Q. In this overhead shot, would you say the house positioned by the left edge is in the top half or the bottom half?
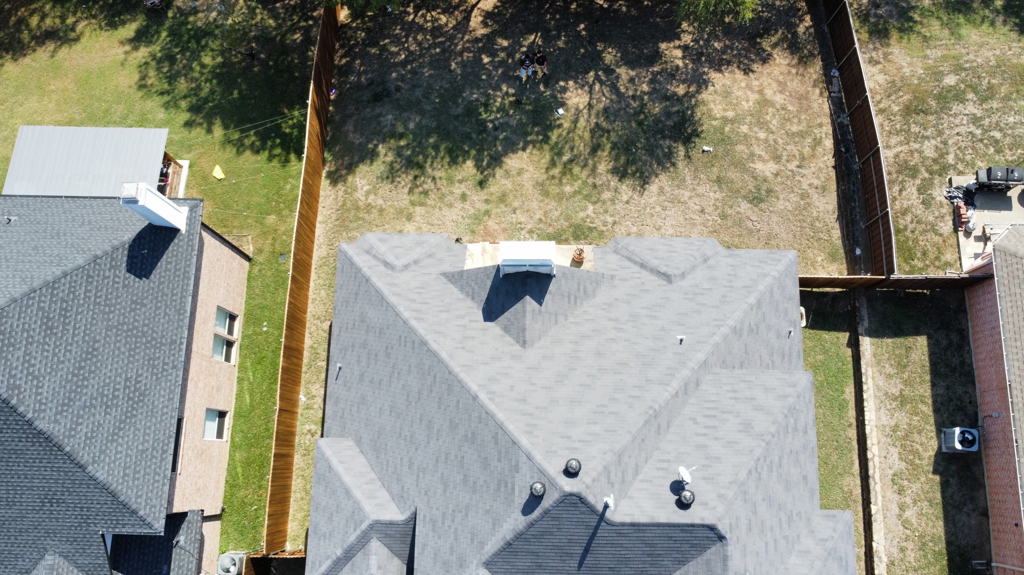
bottom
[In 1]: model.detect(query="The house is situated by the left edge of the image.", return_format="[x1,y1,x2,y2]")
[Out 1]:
[0,180,253,575]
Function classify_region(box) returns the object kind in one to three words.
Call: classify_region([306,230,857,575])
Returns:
house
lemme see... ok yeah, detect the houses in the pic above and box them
[0,180,253,575]
[306,230,857,575]
[963,221,1024,575]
